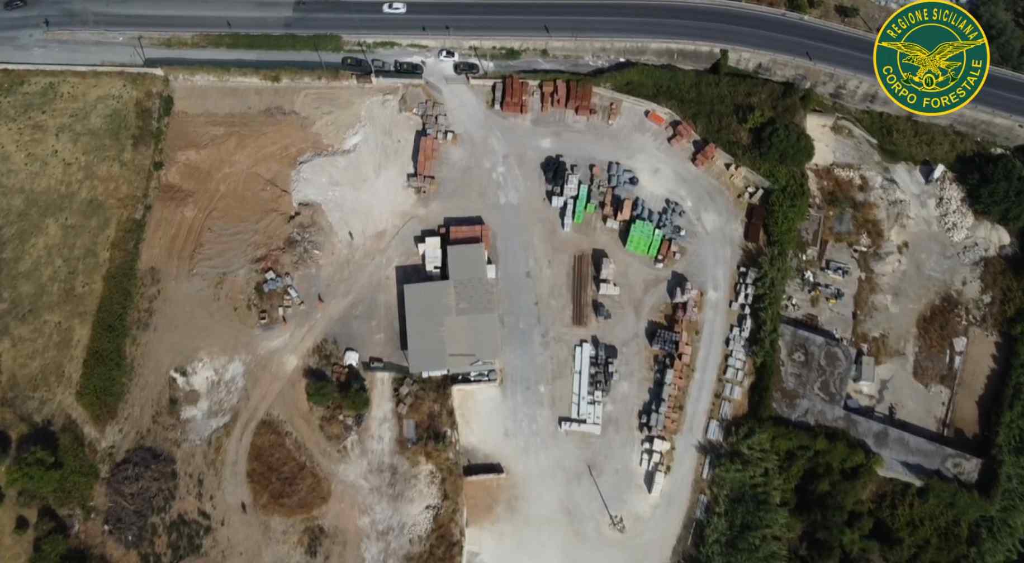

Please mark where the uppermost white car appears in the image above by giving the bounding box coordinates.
[383,1,407,14]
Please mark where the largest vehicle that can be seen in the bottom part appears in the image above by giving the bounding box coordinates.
[343,348,358,367]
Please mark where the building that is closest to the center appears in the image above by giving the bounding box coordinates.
[403,243,498,374]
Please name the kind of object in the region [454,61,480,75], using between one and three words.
vehicle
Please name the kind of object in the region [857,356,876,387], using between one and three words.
shed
